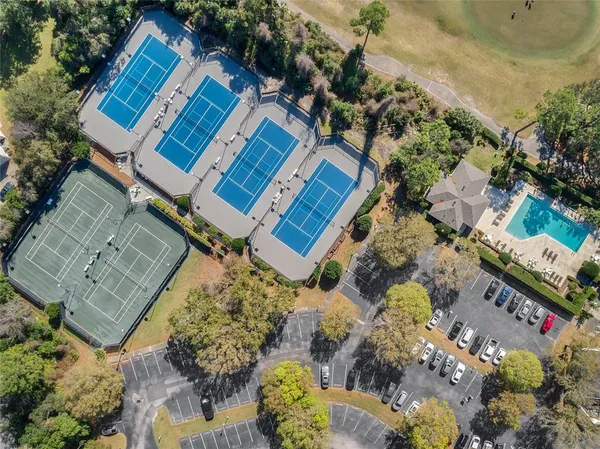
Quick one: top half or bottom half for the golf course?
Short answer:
top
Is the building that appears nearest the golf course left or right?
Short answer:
right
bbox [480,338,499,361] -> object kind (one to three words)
vehicle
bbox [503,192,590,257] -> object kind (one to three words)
swimming pool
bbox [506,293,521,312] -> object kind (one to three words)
car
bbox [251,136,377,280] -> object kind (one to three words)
tennis court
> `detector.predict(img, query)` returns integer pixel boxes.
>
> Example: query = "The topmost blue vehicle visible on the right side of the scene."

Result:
[496,287,511,305]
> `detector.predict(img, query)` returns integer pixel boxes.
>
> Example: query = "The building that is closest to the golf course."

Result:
[422,161,490,233]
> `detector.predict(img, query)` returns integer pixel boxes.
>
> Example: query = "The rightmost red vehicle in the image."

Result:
[540,314,555,332]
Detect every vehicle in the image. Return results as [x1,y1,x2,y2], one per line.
[393,391,407,410]
[441,355,455,374]
[382,383,396,403]
[415,336,424,347]
[496,287,511,305]
[468,433,481,449]
[480,338,499,361]
[469,335,485,353]
[490,348,506,366]
[404,399,418,417]
[529,305,546,324]
[427,309,442,328]
[448,321,463,339]
[458,328,474,346]
[540,314,555,332]
[482,437,494,449]
[430,349,444,368]
[506,293,521,312]
[517,300,533,318]
[321,366,329,385]
[420,343,434,362]
[451,362,465,381]
[0,181,12,199]
[484,280,499,298]
[346,369,355,388]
